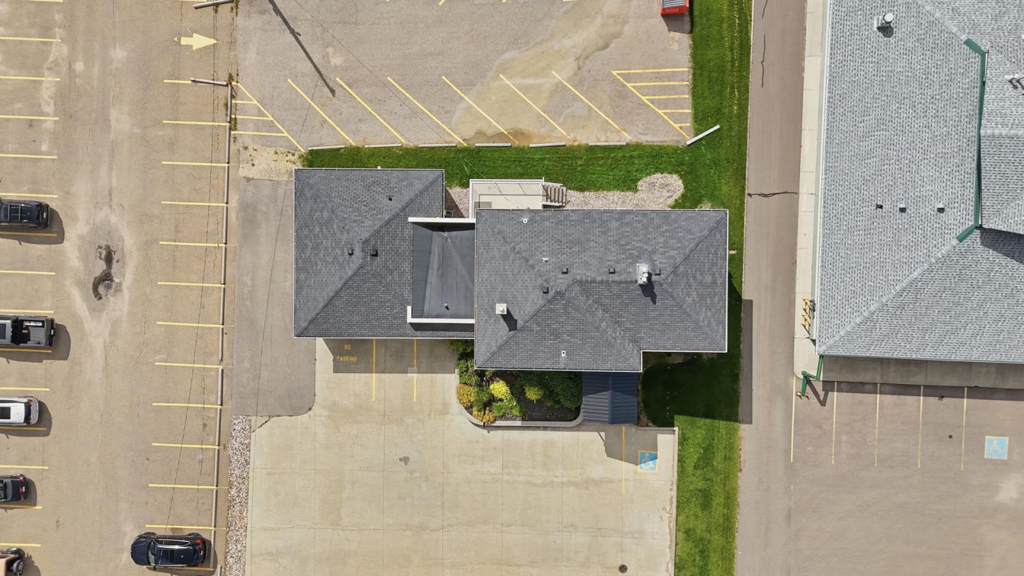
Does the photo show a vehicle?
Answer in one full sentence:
Yes, I can see a vehicle in this picture.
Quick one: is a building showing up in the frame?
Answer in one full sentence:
Yes, there's a building here.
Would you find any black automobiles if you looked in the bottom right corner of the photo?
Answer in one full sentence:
No, no black automobile can be made out in the bottom right corner of the photo.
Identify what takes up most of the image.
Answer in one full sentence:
The largest share of the image is taken up by paved ground.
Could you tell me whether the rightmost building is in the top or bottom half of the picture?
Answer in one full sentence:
It is in the top half that the rightmost building appears.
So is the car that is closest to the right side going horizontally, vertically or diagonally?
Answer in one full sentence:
The car that is closest to the right side is laid out horizontally.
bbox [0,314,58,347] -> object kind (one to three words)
truck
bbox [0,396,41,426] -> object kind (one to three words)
car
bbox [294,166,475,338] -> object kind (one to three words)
building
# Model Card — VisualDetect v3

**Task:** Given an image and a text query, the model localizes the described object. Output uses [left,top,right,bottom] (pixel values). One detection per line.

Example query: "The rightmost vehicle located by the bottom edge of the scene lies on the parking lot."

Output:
[133,532,208,570]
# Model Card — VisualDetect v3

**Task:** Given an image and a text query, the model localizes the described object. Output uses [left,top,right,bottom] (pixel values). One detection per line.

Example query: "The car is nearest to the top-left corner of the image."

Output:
[0,200,51,229]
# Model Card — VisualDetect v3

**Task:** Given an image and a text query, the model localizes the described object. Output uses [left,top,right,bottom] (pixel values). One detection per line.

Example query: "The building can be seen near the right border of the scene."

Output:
[813,0,1024,363]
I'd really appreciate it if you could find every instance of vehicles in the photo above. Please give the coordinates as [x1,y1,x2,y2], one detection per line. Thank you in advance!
[133,532,208,570]
[0,473,31,503]
[0,314,58,347]
[0,396,41,426]
[0,546,22,576]
[0,200,51,229]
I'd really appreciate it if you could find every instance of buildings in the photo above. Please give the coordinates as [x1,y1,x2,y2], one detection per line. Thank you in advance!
[475,209,728,371]
[813,0,1024,363]
[294,166,475,338]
